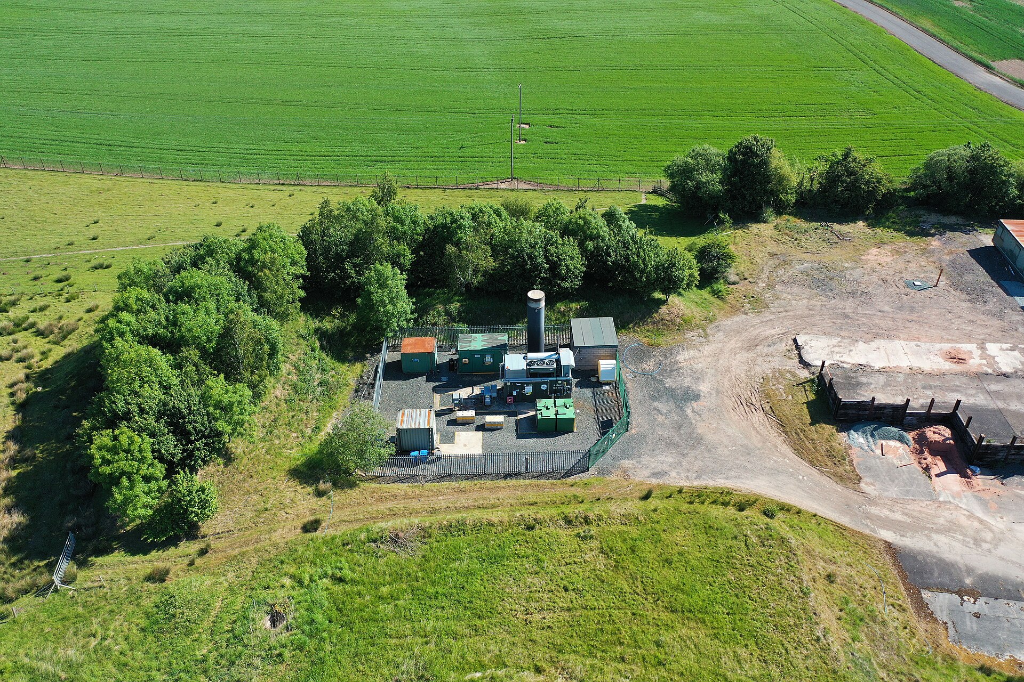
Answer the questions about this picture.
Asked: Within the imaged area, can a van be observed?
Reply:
No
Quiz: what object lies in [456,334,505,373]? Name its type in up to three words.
building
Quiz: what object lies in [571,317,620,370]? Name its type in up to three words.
shed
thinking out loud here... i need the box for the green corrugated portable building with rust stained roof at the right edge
[992,219,1024,283]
